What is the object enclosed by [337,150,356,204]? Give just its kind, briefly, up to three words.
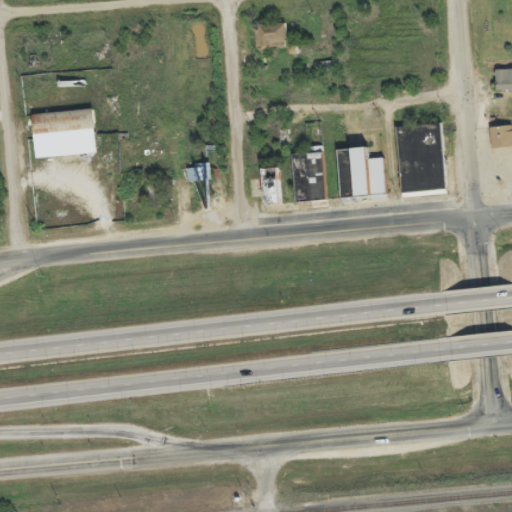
building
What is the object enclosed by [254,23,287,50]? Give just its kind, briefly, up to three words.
house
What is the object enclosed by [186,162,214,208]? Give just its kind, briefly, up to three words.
building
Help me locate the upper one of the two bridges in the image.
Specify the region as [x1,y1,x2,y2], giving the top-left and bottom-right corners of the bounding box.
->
[444,283,512,316]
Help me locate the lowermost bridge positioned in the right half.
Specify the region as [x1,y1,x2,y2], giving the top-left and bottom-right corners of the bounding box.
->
[446,330,512,362]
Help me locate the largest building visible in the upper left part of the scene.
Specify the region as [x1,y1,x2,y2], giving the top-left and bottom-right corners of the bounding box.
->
[31,109,98,158]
